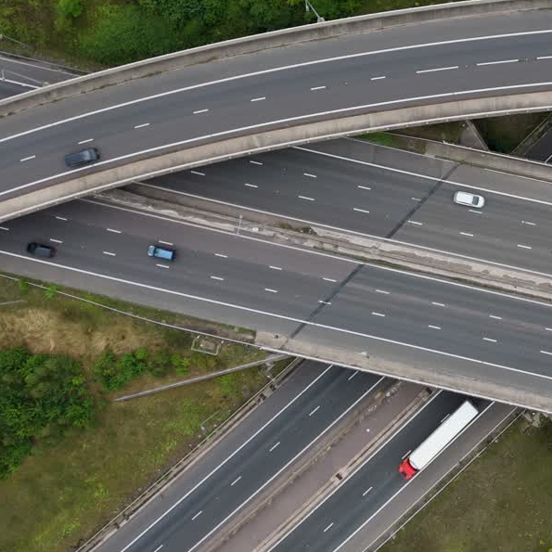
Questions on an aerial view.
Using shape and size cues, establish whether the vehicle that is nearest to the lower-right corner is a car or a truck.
truck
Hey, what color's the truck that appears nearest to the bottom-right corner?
white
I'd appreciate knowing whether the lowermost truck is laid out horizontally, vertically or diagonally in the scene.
diagonally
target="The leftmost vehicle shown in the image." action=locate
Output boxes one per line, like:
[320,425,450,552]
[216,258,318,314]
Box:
[28,242,56,257]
